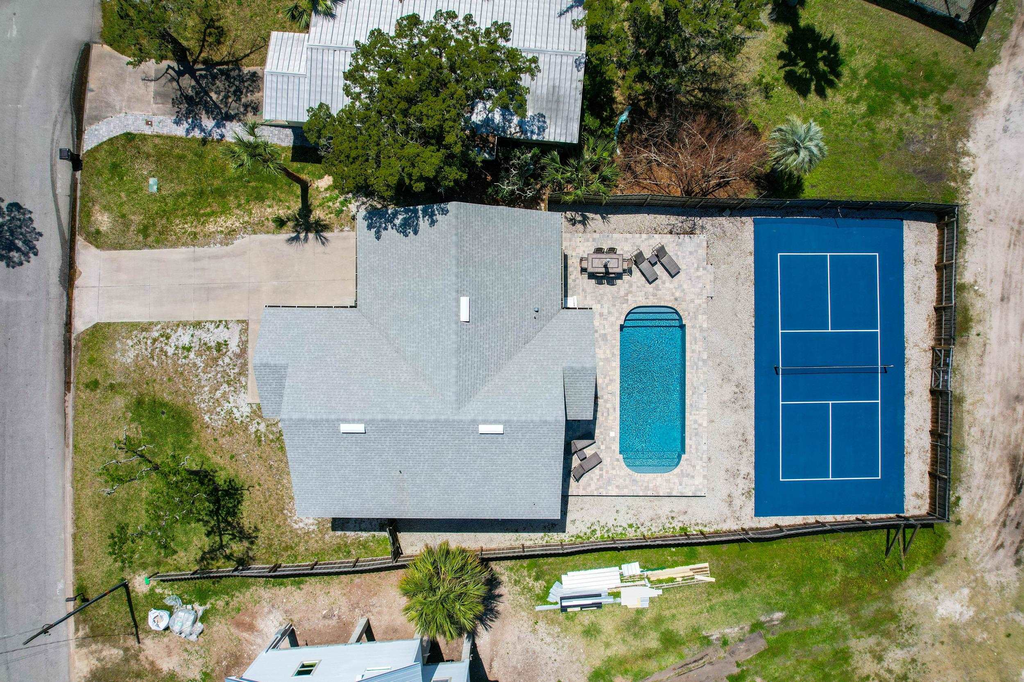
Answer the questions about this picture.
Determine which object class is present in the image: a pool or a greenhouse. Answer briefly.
pool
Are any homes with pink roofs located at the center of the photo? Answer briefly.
No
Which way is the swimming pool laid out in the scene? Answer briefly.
vertically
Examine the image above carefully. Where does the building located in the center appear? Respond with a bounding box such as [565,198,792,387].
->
[253,201,595,518]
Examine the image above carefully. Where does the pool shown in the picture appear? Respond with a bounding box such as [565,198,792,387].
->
[614,301,691,478]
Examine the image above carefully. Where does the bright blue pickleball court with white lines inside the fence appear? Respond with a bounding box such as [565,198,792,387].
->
[753,217,905,517]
